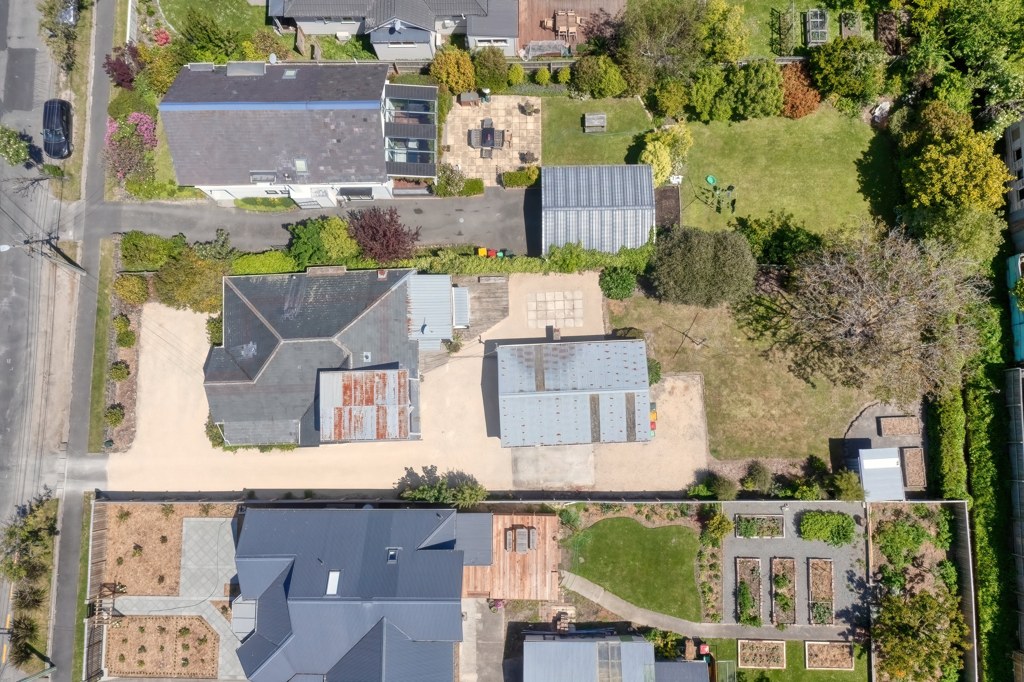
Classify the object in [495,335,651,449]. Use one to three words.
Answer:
building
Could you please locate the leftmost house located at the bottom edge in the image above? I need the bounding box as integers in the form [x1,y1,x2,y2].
[230,508,494,682]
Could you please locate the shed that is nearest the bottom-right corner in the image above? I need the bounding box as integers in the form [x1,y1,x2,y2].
[845,448,905,502]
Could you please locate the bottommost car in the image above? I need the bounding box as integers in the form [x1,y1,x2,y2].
[39,97,77,161]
